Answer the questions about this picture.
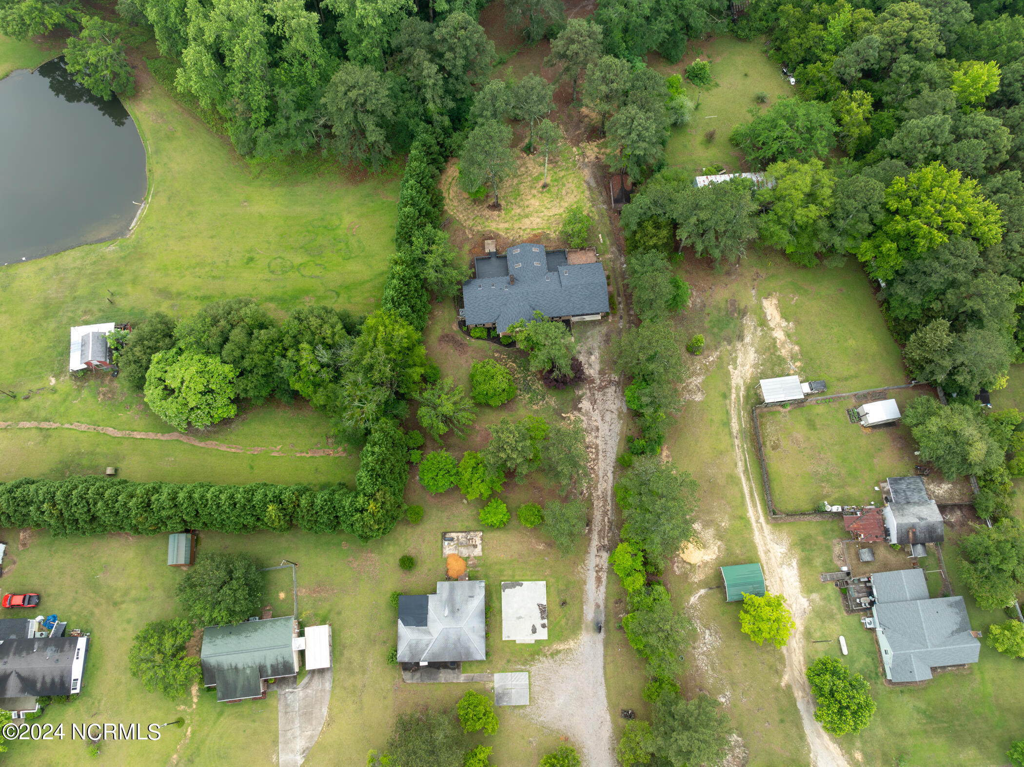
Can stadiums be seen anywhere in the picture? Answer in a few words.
No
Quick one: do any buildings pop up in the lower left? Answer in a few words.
Yes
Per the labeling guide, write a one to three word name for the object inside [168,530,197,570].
shed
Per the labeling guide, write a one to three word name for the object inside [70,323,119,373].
barn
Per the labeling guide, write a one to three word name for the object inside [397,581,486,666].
house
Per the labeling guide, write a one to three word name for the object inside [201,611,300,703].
building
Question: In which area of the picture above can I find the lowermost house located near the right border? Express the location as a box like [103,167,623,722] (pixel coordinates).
[869,568,986,682]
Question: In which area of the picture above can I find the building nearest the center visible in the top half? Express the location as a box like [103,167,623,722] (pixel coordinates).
[463,243,609,339]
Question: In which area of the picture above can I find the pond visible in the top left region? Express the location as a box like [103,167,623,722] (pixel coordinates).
[0,61,145,265]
